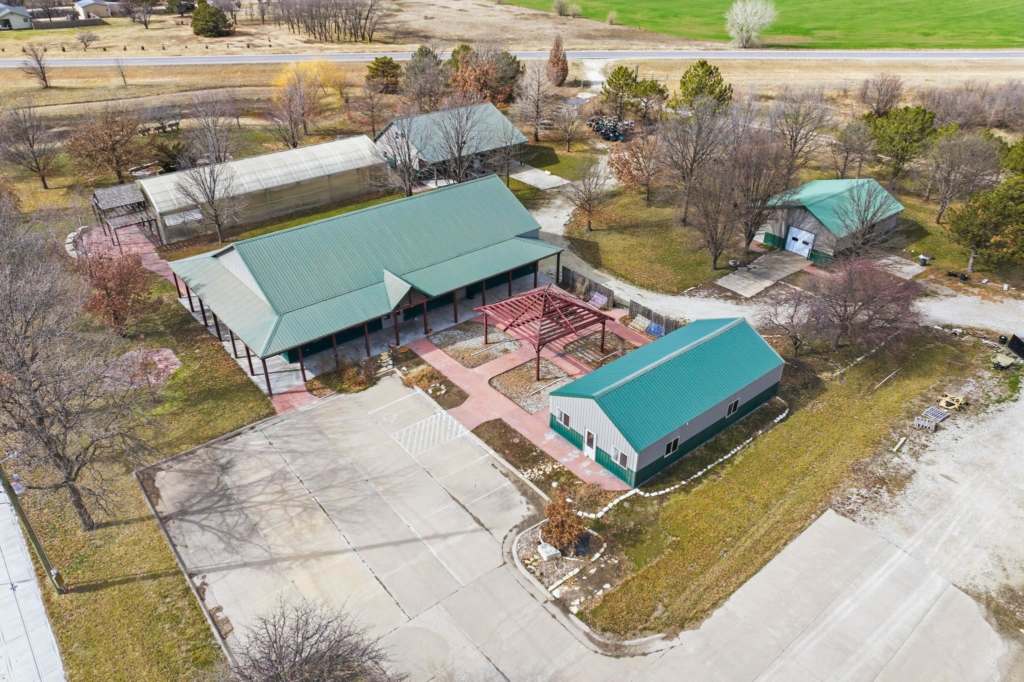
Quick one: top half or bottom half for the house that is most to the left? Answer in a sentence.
The top half of the photo is where the house that is most to the left is.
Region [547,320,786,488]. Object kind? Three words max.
building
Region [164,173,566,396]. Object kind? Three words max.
building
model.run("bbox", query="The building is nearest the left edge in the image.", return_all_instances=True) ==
[0,4,41,32]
